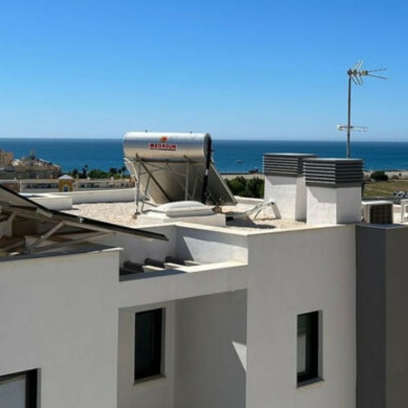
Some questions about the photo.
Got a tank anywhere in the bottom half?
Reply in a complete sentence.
No, looking in the bottom half, there is no tank.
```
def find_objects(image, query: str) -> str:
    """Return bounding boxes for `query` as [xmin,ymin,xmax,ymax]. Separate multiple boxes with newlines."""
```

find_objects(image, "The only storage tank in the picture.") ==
[118,132,206,160]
